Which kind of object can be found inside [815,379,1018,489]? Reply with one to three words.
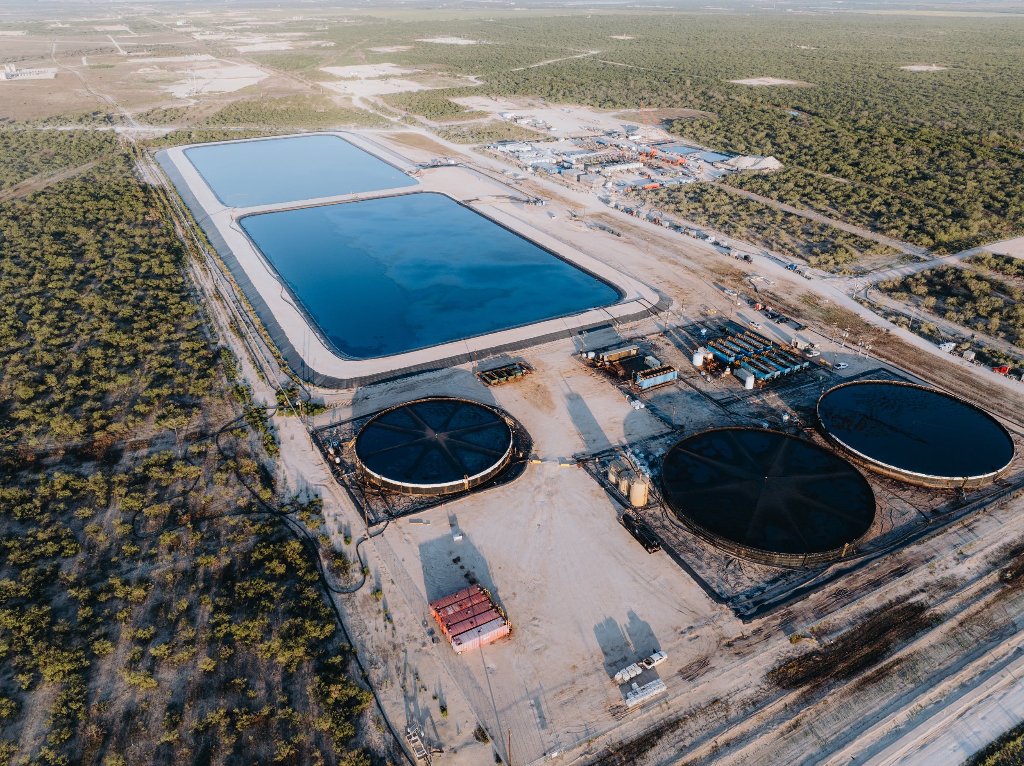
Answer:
water tank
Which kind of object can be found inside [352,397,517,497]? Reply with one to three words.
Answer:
water tank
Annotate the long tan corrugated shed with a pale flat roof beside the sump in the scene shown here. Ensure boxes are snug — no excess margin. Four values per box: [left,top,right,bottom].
[599,342,642,361]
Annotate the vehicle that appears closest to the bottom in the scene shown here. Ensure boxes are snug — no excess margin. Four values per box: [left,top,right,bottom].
[642,651,668,668]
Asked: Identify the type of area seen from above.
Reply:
industrial area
